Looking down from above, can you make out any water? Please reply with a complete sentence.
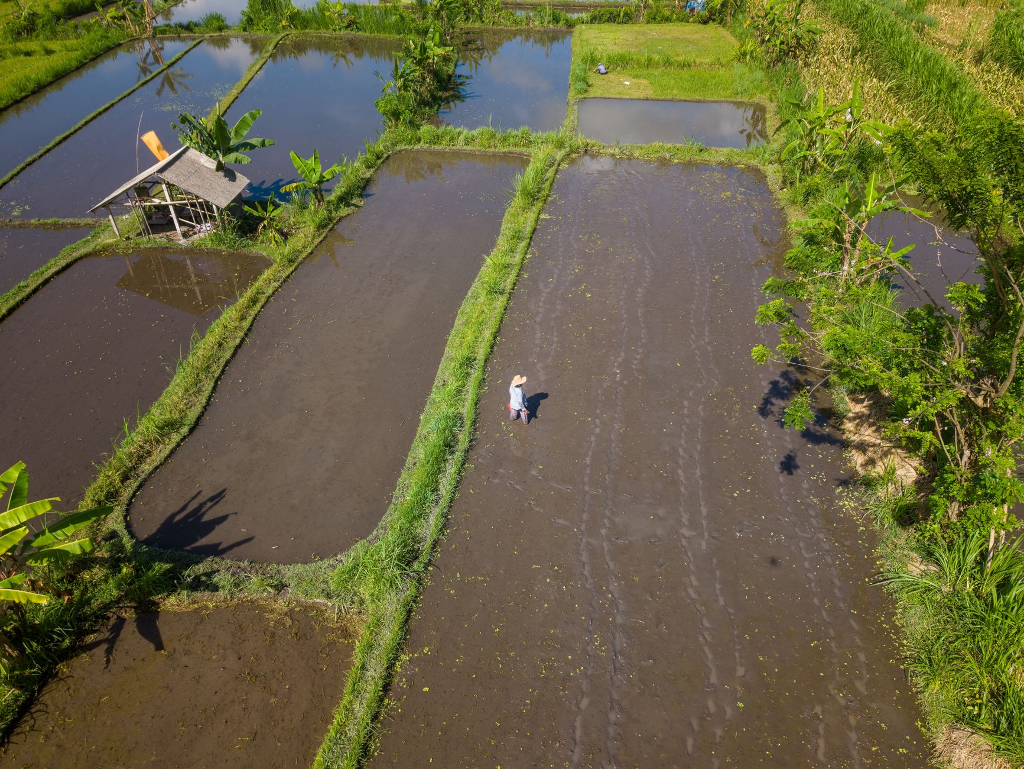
Yes, the picture does contain water.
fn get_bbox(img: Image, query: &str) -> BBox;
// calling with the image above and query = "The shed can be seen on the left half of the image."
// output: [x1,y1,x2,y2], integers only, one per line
[87,142,260,247]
